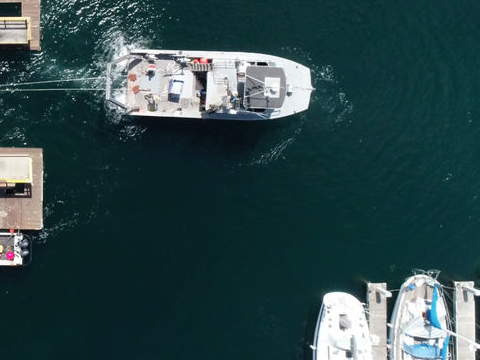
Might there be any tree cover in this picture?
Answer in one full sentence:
No, no tree cover is visible.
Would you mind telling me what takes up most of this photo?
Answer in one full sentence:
Most of the picture is covered by water.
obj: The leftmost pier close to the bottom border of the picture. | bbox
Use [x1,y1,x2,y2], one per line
[365,282,389,360]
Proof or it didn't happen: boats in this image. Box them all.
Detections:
[309,292,373,360]
[0,231,32,266]
[107,51,314,119]
[386,270,480,360]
